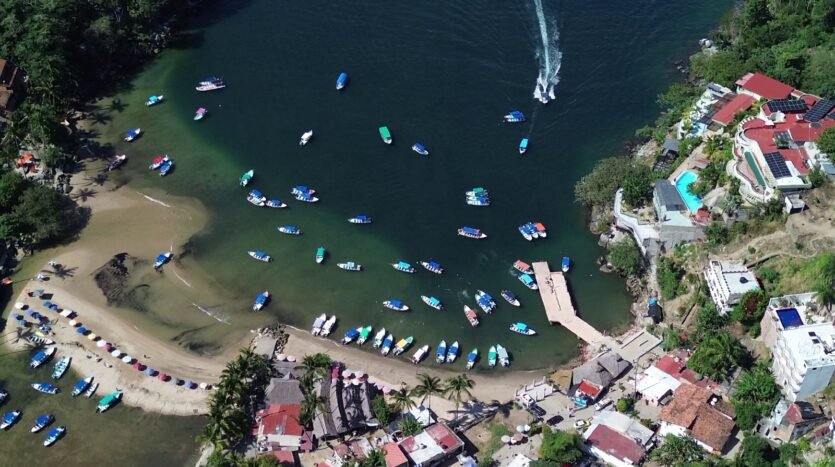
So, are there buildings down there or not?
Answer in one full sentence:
Yes, the image includes a building.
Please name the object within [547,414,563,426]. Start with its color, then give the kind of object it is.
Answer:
black vehicle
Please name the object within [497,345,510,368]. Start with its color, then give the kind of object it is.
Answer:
white boat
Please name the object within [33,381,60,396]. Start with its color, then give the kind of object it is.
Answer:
blue boat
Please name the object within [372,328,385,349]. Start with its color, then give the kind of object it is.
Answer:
white boat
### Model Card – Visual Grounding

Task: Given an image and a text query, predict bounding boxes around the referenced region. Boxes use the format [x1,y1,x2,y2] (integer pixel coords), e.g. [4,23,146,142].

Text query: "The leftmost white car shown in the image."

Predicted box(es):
[521,392,535,406]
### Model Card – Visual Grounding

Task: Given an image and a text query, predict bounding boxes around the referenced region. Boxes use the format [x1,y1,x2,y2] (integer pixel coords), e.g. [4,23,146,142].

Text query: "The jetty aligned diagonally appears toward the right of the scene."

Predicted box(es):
[532,262,618,355]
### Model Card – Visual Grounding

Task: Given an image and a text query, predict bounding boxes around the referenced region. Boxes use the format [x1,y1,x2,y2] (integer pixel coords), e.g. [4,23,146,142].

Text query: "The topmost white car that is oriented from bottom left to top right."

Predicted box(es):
[592,399,609,412]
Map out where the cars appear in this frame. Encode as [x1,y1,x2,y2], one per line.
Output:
[528,404,547,417]
[572,419,589,431]
[547,414,563,426]
[592,399,609,412]
[521,392,535,406]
